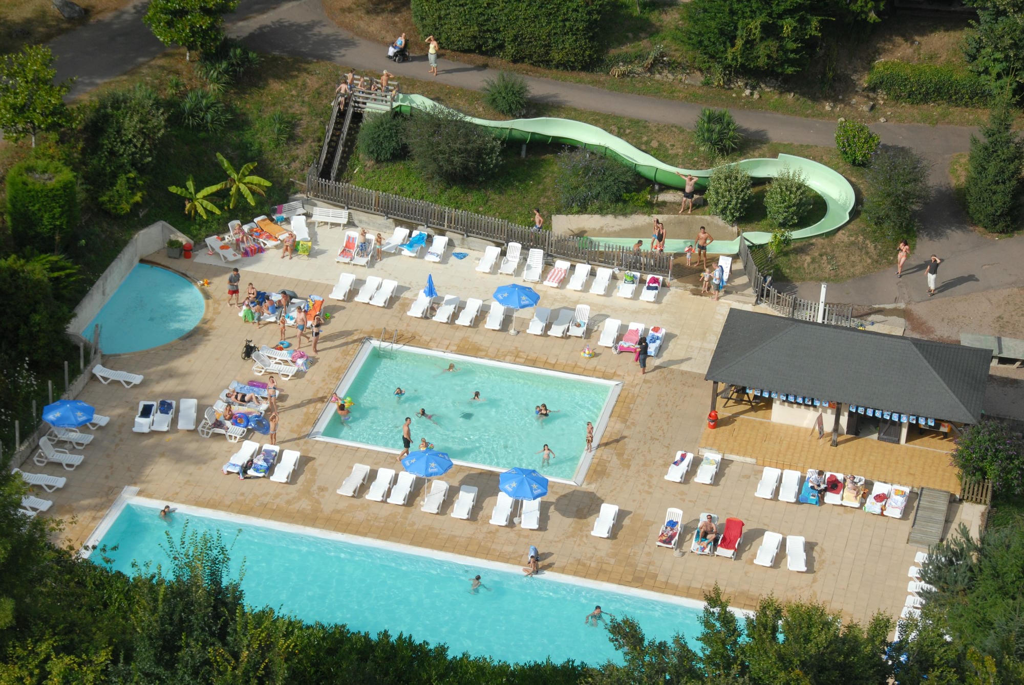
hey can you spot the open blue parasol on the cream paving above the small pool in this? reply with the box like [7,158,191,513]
[493,288,539,335]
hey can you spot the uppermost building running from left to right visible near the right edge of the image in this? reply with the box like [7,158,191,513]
[703,306,994,467]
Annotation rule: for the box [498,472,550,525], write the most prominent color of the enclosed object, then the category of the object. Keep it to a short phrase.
blue umbrella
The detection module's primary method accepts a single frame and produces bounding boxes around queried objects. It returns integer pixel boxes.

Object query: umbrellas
[420,271,439,318]
[399,450,454,508]
[41,400,96,451]
[493,288,539,335]
[498,472,550,525]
